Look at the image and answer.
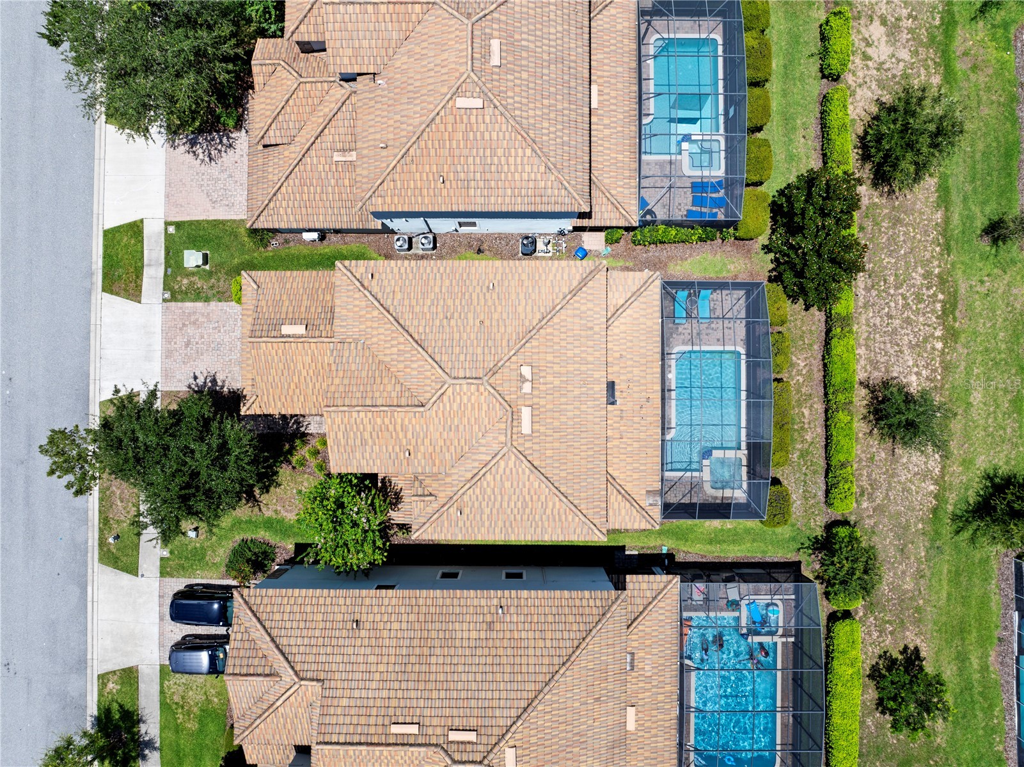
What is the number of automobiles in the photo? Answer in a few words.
2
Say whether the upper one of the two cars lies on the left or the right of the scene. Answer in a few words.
left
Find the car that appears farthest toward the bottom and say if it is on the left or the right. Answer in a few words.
left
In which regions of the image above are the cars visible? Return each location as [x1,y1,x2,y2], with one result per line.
[167,632,227,674]
[167,585,260,629]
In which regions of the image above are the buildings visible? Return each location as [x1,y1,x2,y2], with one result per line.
[246,0,641,234]
[239,259,663,542]
[218,564,682,767]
